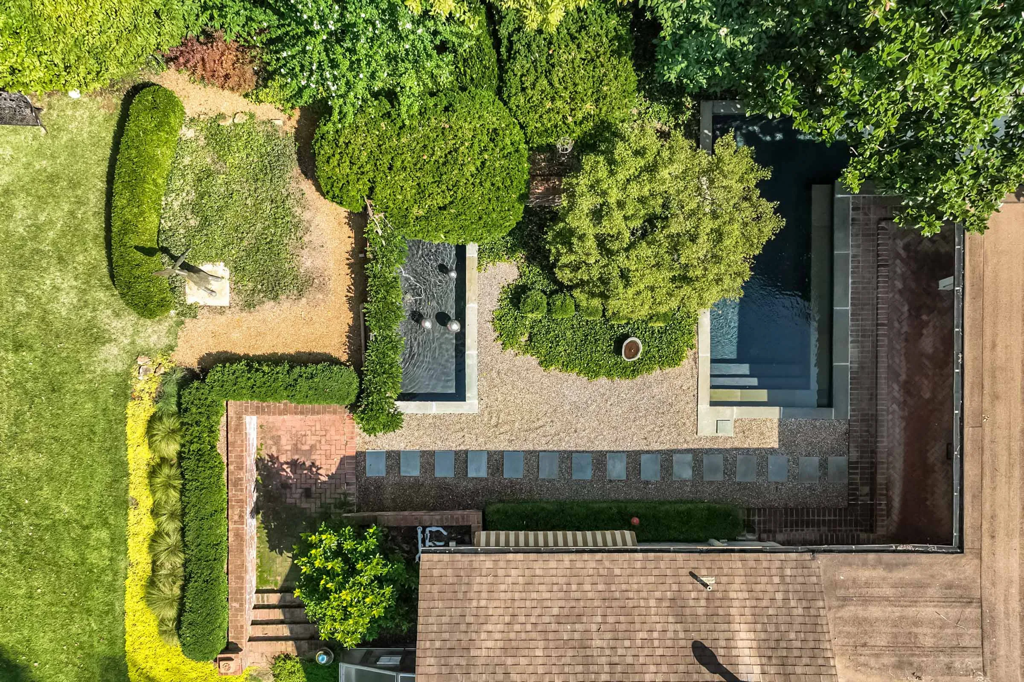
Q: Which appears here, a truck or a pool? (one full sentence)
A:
Of the two, only a pool appears.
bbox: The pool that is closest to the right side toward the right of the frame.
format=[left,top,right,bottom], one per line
[698,101,899,435]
